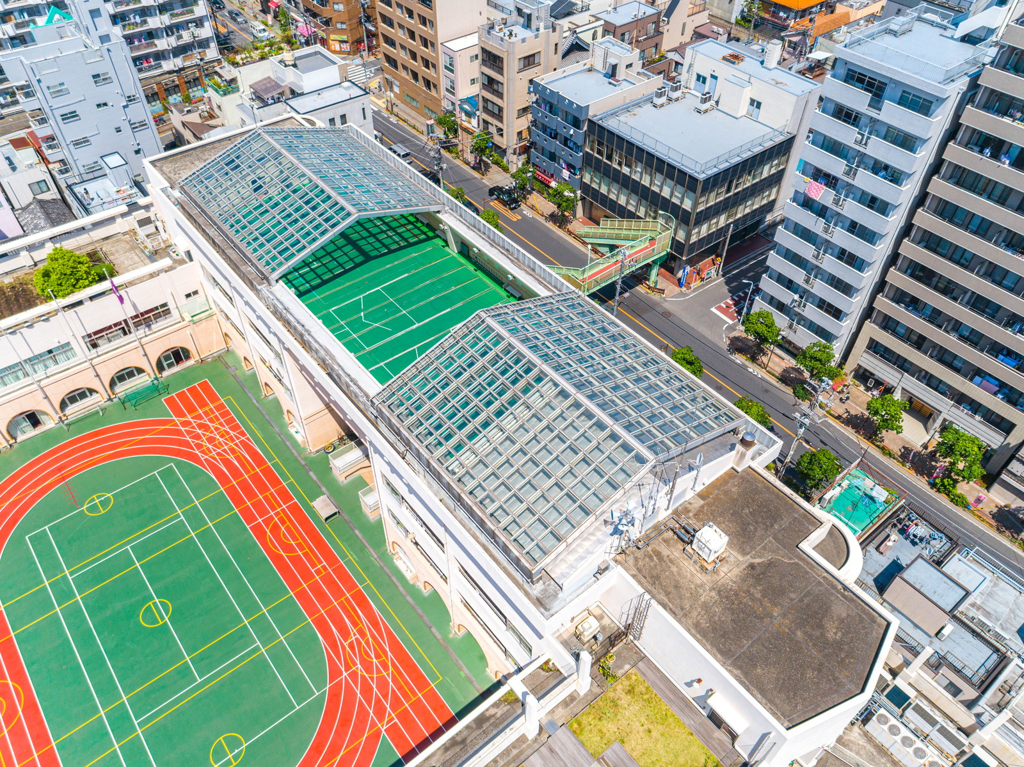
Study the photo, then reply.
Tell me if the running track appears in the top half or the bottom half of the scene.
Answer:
bottom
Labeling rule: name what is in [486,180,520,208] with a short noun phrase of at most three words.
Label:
car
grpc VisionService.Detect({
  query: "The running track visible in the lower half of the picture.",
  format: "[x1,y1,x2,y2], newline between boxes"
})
[0,381,458,767]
